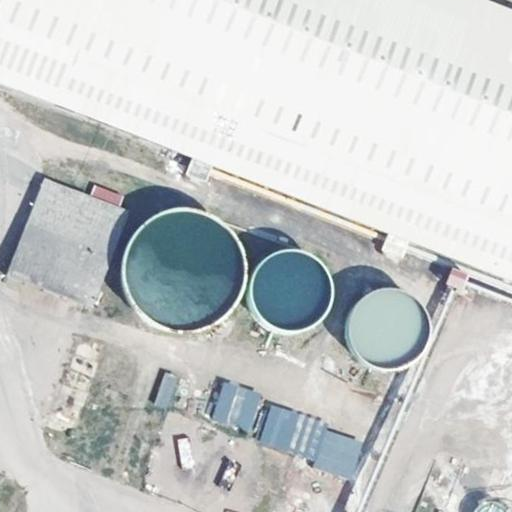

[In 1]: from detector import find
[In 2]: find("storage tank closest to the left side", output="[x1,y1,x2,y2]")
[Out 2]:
[120,207,248,334]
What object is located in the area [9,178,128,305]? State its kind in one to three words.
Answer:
building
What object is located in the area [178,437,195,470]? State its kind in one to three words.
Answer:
vehicle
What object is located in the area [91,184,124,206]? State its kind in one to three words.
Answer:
shed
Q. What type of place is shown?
industrial area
